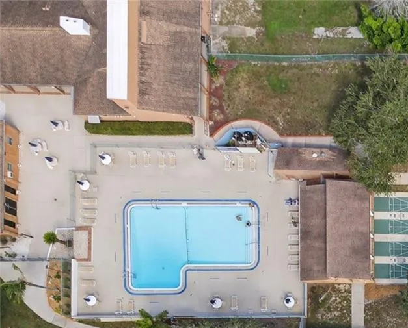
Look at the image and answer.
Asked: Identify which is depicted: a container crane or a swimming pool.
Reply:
swimming pool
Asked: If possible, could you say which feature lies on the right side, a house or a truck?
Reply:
house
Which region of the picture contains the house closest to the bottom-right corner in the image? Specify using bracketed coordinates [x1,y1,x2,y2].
[299,179,375,284]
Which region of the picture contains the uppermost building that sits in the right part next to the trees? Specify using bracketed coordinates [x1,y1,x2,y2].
[275,148,352,180]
